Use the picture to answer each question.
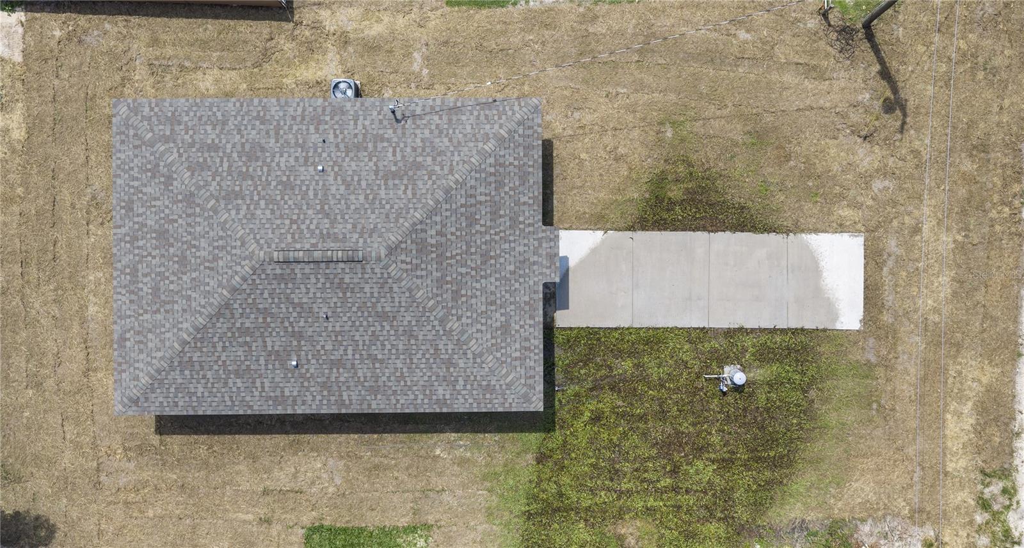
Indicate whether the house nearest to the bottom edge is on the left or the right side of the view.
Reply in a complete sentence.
The house nearest to the bottom edge appears in the left half of the scene.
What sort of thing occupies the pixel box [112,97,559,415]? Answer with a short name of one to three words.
house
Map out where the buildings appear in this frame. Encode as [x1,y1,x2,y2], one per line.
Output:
[112,97,559,415]
[84,0,292,20]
